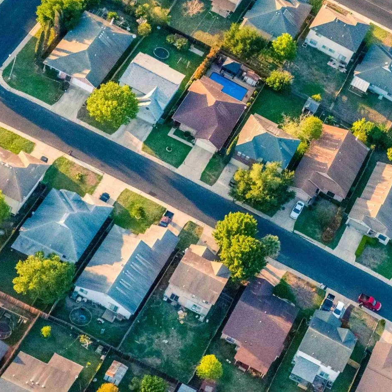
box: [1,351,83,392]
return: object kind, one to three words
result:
house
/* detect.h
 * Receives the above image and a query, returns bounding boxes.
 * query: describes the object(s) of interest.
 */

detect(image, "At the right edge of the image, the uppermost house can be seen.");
[306,0,375,62]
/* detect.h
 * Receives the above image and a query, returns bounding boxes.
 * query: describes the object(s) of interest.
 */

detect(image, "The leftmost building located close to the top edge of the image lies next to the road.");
[42,10,135,107]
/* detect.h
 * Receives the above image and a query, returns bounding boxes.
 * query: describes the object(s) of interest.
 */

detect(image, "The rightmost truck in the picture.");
[356,290,384,312]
